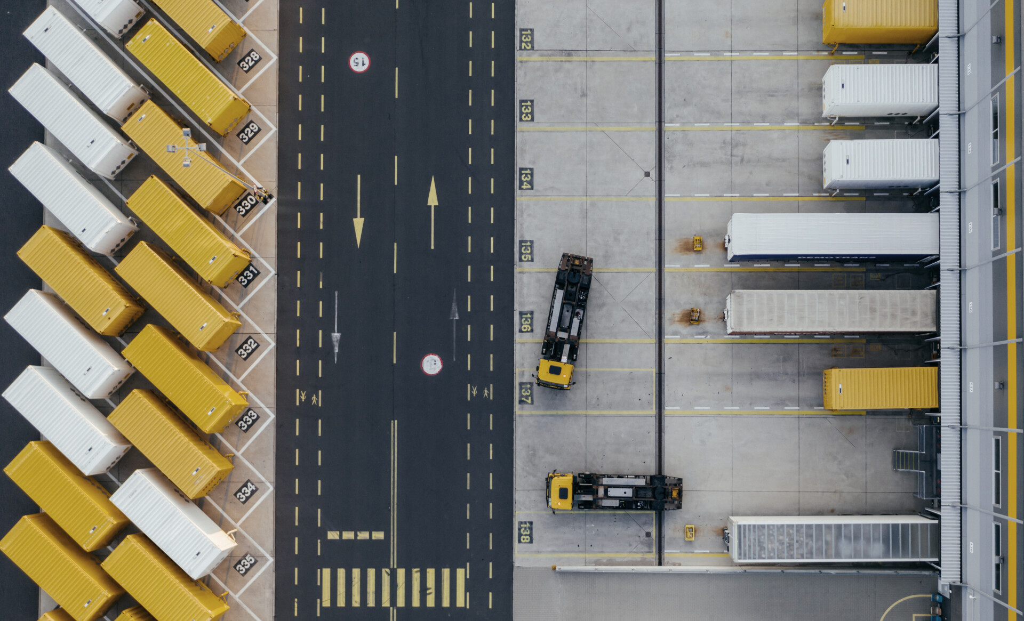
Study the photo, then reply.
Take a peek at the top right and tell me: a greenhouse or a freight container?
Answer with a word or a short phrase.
freight container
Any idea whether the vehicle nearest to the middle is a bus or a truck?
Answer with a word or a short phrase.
truck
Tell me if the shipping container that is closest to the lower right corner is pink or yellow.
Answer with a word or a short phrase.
yellow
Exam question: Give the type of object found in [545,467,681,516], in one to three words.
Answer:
truck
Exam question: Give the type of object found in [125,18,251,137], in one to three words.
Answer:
shipping container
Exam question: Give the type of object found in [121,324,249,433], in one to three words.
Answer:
shipping container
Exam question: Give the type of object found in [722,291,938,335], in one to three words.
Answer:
trailer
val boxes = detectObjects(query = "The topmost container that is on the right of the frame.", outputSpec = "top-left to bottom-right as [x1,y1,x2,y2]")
[822,0,938,59]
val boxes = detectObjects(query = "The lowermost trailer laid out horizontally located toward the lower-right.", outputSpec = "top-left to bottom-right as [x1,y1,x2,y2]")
[725,517,940,563]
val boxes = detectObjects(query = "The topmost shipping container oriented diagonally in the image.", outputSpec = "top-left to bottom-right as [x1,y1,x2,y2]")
[153,0,246,62]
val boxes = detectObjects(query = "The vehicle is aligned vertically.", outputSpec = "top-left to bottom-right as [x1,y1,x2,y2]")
[530,255,593,391]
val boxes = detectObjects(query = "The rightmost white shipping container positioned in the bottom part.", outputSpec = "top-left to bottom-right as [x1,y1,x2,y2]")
[110,468,237,580]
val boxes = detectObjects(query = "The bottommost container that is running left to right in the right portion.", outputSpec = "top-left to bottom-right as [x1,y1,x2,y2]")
[823,368,939,411]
